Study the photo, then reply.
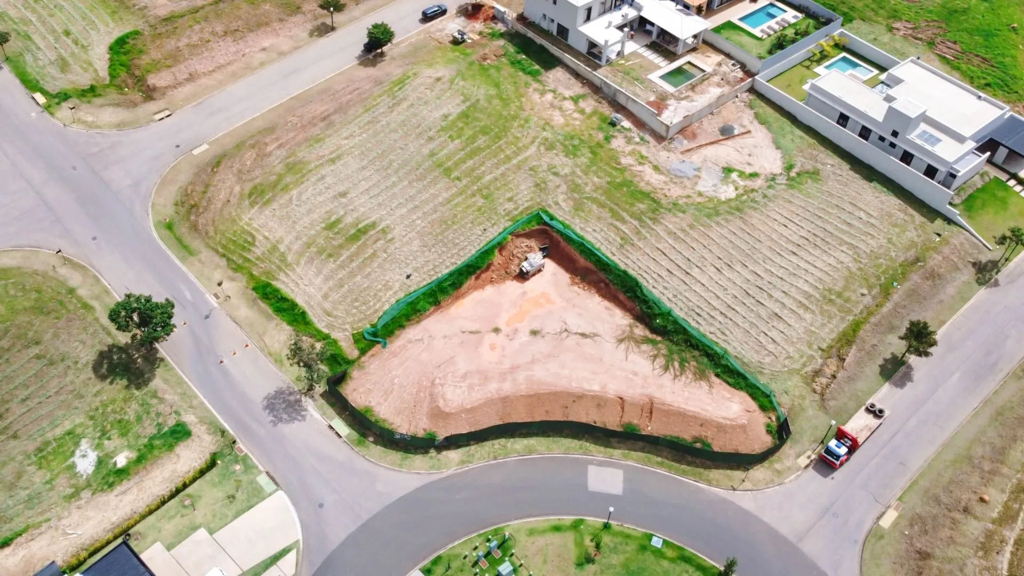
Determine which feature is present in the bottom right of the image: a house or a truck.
truck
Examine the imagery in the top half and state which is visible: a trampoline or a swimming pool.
swimming pool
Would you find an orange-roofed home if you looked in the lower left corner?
No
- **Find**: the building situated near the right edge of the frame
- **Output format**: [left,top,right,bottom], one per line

[801,50,1024,192]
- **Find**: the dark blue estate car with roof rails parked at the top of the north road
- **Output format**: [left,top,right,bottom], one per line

[420,6,447,23]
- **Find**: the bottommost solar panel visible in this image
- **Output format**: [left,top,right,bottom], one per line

[916,131,947,150]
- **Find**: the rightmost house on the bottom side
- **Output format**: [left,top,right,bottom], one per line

[79,540,155,576]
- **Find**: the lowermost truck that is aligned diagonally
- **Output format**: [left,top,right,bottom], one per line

[816,396,891,470]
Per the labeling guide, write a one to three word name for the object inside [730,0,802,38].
swimming pool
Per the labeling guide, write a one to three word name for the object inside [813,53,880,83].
swimming pool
